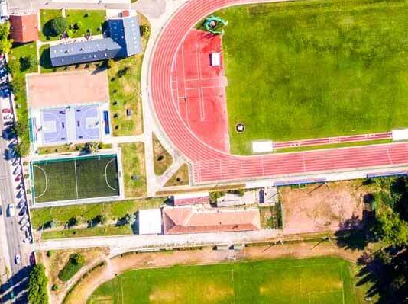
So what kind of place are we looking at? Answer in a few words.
sports ground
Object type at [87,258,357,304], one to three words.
sports field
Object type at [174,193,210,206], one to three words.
shed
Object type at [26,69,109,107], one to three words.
sports court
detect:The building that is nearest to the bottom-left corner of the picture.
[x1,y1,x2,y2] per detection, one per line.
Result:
[140,206,162,235]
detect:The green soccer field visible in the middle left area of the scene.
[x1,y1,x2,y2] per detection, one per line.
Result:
[32,155,120,205]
